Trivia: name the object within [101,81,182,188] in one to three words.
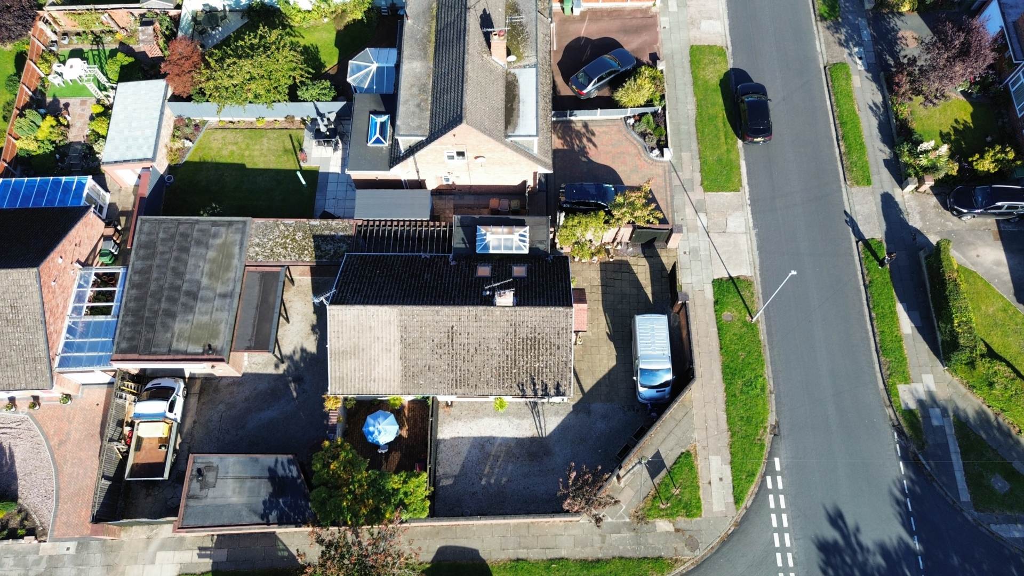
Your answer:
building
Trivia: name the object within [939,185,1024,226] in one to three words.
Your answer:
car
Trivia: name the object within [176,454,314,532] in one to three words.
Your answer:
building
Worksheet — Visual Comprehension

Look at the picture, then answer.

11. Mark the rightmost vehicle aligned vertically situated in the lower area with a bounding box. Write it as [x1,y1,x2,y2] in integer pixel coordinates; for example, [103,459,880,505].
[628,311,680,409]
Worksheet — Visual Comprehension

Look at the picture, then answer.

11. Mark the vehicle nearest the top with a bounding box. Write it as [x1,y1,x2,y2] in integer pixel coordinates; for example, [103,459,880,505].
[565,47,643,102]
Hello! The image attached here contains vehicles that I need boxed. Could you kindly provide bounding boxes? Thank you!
[556,178,638,219]
[628,311,680,409]
[125,376,193,479]
[732,84,774,147]
[565,47,643,102]
[939,185,1024,226]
